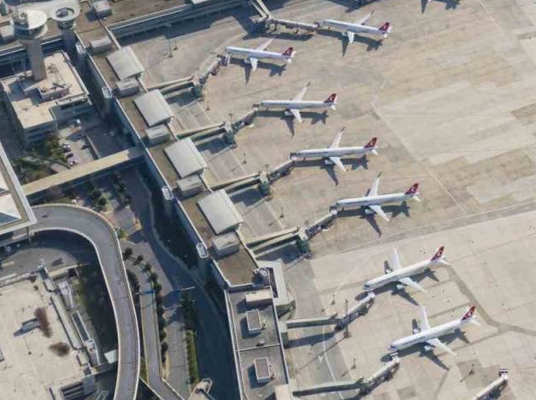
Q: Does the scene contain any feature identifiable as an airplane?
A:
Yes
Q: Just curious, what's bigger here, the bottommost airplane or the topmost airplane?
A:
the bottommost airplane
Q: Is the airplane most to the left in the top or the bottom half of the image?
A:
top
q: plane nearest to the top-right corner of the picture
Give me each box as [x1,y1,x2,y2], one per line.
[323,13,389,43]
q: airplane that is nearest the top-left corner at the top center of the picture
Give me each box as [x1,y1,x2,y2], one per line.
[226,35,294,69]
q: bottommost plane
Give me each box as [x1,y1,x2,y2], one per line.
[390,301,479,357]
